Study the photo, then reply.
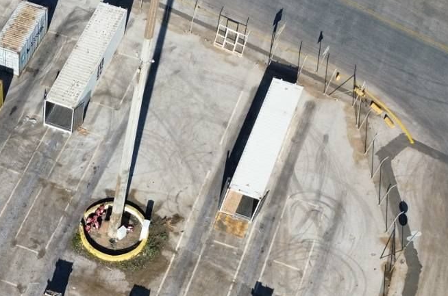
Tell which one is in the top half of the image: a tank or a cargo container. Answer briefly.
cargo container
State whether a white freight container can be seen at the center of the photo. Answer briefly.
Yes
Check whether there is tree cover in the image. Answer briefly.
No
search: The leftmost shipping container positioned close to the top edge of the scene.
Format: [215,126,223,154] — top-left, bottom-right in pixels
[0,0,48,76]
